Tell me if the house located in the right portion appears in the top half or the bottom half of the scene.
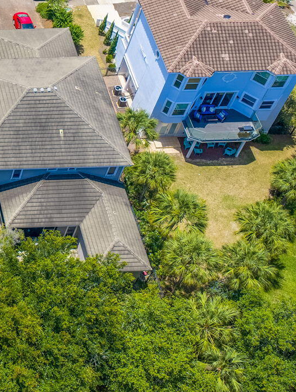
top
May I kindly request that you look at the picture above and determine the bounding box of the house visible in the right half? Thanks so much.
[74,0,296,162]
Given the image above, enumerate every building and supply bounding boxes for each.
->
[0,26,153,295]
[74,0,296,162]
